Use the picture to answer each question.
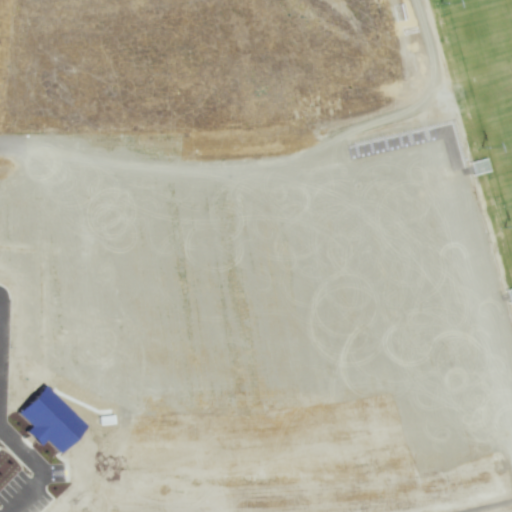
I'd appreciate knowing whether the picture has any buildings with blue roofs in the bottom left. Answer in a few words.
Yes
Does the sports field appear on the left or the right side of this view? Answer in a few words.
right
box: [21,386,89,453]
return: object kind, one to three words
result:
building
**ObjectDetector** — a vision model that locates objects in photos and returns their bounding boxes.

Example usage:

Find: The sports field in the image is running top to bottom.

[430,0,512,290]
